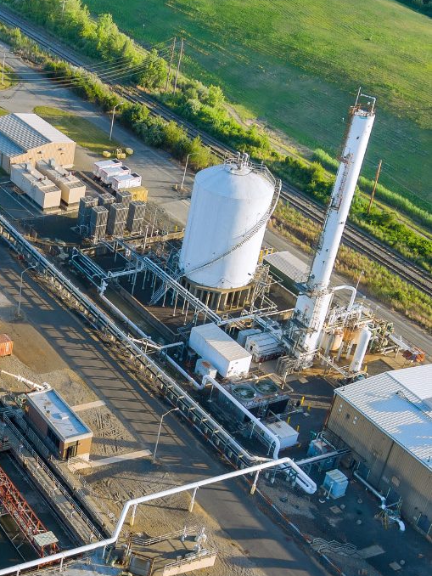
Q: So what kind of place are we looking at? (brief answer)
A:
industrial area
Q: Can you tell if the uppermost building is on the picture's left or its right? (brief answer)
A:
left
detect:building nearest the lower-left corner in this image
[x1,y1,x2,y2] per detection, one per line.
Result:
[27,388,95,466]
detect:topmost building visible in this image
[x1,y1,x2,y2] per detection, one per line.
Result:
[0,108,78,169]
